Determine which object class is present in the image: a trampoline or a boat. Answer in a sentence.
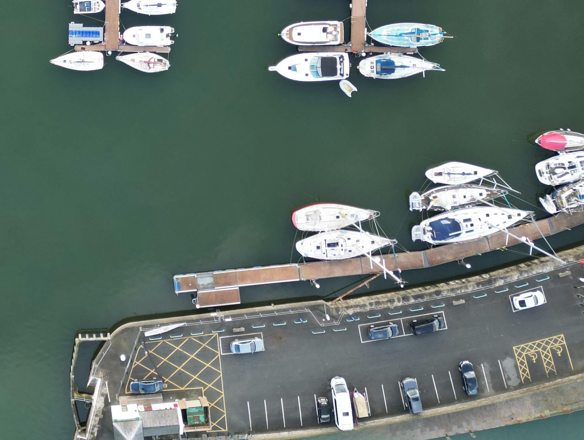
The image shows a boat.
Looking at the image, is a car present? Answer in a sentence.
Yes, looking at the shot, I can spot a car.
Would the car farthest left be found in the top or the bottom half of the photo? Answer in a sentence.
You can find the car farthest left in the bottom half.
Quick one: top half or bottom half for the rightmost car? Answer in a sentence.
The rightmost car is in the bottom half of the image.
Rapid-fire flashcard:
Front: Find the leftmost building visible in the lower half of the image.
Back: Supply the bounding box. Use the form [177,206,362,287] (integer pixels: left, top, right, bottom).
[111,401,184,440]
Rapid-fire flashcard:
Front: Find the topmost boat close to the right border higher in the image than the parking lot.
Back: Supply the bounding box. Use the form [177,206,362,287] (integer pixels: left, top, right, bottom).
[532,130,584,152]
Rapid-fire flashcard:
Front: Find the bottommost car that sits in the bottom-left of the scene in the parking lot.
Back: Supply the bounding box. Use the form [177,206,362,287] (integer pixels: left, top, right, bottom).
[129,375,164,395]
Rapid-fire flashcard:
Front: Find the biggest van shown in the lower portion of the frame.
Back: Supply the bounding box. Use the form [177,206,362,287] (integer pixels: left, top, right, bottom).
[328,374,358,437]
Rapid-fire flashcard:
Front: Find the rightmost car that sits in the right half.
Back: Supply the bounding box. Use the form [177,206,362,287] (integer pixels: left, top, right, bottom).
[510,288,546,310]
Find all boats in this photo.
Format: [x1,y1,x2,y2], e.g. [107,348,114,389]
[368,23,455,46]
[123,27,180,45]
[341,80,358,99]
[532,130,584,152]
[551,180,584,214]
[280,22,343,46]
[49,50,105,70]
[115,51,171,72]
[420,186,517,217]
[358,53,447,77]
[408,225,421,244]
[269,53,350,81]
[292,203,379,241]
[295,230,404,283]
[540,195,558,215]
[120,0,178,14]
[533,152,584,186]
[405,192,421,212]
[423,163,521,194]
[70,0,106,14]
[419,207,568,266]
